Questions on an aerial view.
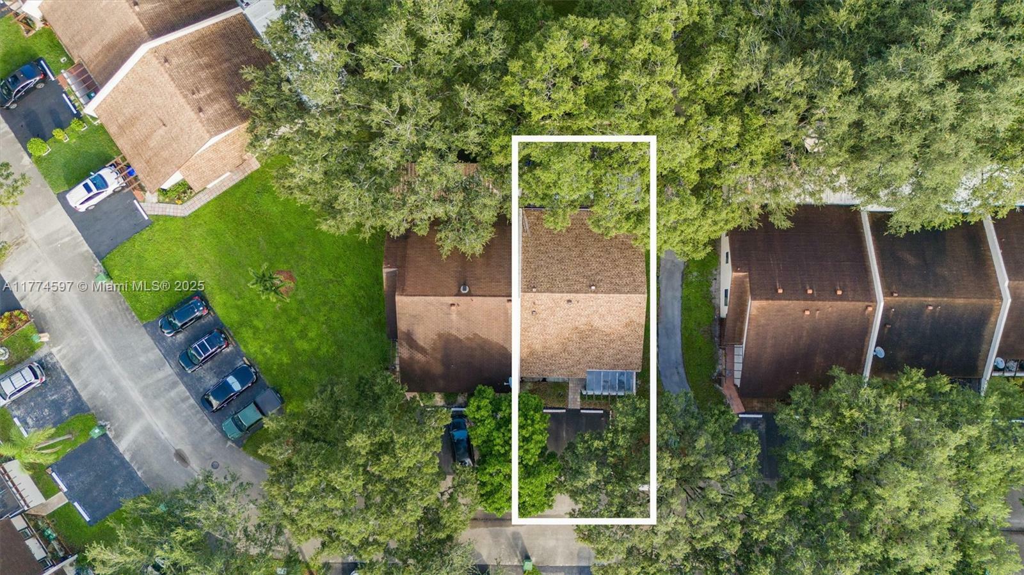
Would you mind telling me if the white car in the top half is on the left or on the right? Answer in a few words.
left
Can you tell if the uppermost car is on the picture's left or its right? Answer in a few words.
left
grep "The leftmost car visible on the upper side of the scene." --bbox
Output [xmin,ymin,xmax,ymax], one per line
[0,60,56,110]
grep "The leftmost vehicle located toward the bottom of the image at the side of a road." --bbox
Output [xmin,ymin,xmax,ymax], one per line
[0,357,57,407]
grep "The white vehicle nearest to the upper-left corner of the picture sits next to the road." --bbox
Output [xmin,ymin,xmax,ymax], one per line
[68,163,131,212]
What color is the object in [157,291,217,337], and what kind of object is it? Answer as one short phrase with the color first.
blue car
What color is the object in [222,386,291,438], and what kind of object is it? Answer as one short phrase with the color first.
blue truck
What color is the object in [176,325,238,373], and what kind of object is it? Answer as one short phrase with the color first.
blue car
